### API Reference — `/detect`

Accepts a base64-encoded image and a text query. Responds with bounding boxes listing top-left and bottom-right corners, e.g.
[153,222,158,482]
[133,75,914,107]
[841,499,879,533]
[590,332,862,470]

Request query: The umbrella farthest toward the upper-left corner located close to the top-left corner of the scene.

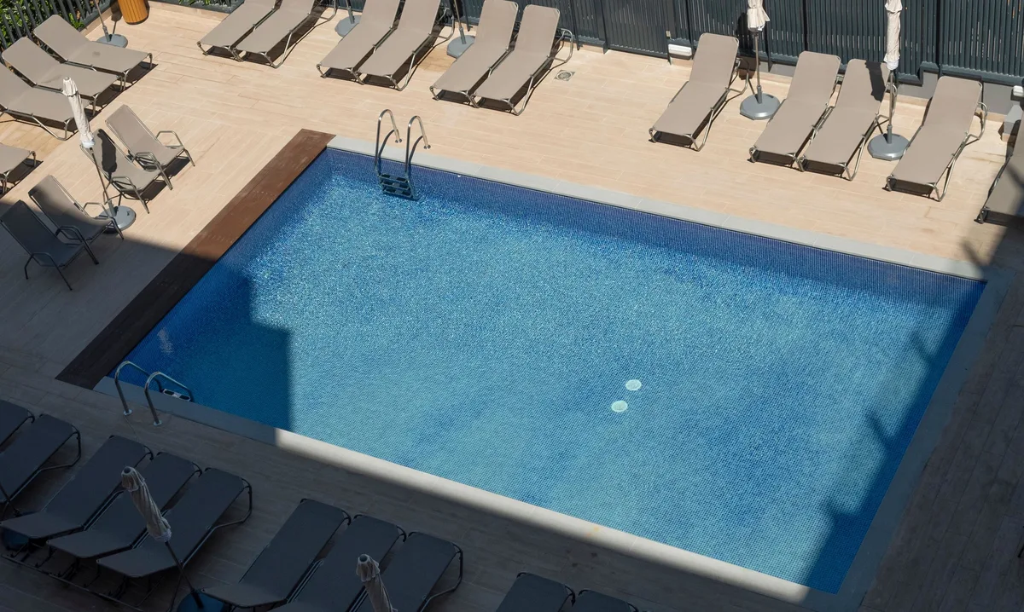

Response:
[95,0,128,47]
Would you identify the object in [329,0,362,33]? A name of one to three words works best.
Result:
umbrella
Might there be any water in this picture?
Yes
